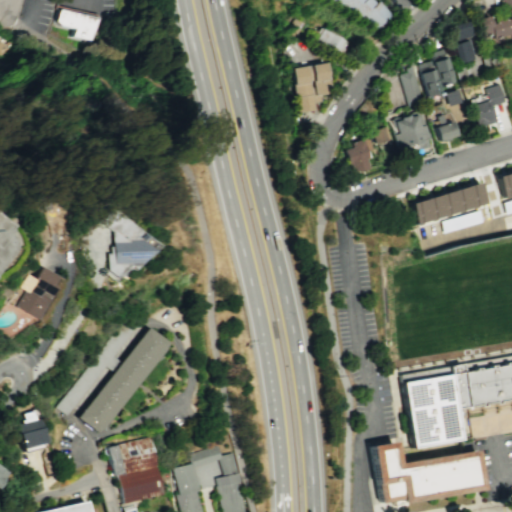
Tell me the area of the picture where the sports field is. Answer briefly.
right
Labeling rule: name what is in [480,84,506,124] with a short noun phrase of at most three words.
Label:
house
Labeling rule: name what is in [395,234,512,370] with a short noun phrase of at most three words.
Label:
sports field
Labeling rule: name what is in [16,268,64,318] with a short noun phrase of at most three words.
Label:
house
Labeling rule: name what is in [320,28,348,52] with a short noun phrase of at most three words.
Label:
building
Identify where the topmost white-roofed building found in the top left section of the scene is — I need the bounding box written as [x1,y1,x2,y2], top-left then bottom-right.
[56,4,102,42]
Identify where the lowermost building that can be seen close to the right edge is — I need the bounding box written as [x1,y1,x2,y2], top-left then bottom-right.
[380,444,491,504]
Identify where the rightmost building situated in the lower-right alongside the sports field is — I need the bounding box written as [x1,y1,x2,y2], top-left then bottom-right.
[460,365,512,408]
